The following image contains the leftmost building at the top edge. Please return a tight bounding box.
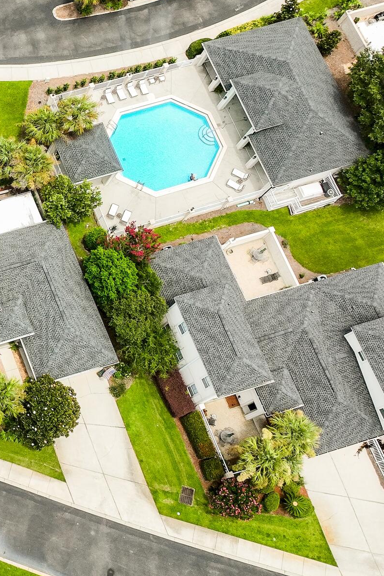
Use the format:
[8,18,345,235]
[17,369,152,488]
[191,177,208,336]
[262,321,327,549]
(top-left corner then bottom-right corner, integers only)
[194,17,371,193]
